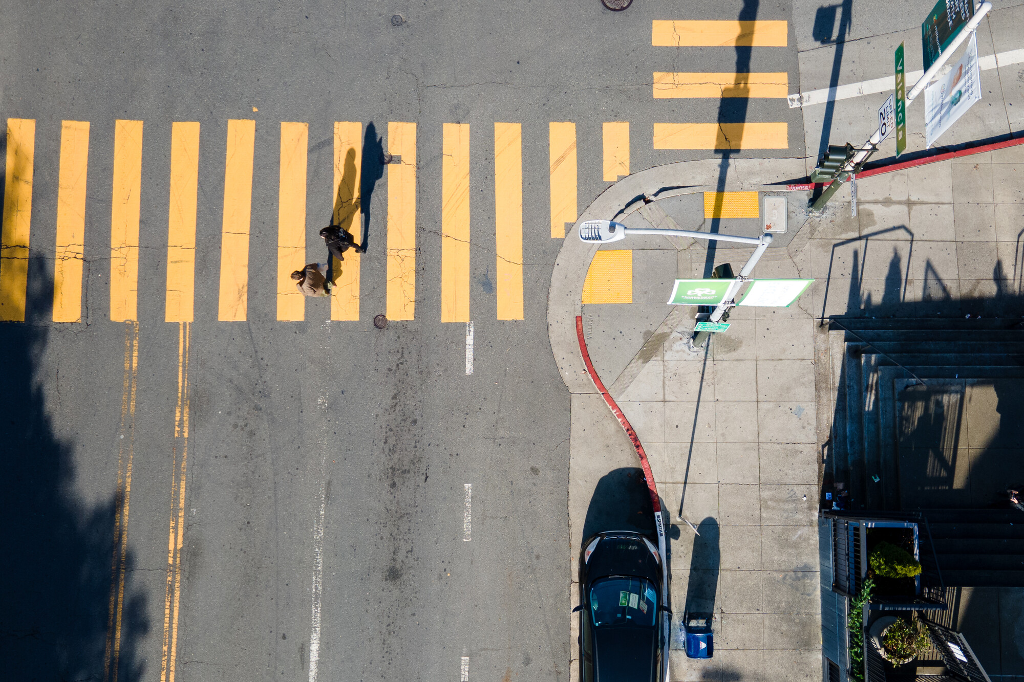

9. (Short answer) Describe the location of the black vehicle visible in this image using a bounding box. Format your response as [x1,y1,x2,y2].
[570,530,674,682]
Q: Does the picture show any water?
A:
No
